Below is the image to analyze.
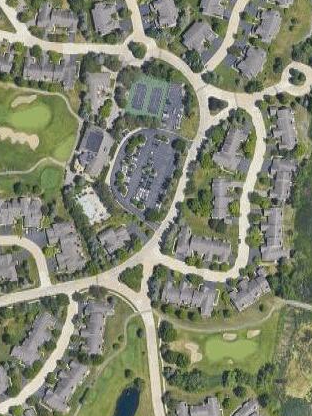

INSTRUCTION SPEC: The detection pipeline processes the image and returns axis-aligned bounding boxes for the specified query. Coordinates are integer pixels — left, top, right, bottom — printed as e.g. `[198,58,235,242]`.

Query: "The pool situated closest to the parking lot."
[77,187,111,225]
